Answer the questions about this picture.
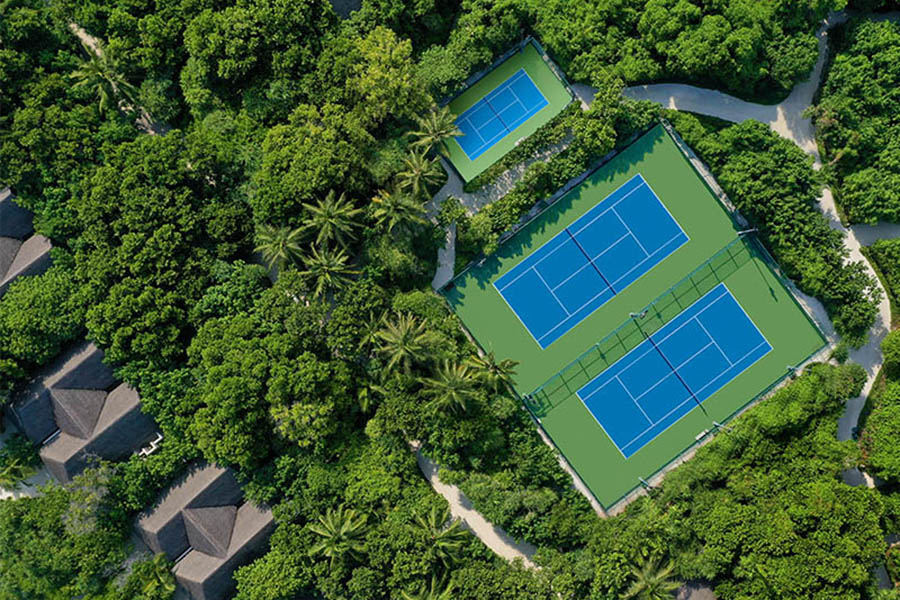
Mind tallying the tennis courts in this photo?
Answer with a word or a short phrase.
three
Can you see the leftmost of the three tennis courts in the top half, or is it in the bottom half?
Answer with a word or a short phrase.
top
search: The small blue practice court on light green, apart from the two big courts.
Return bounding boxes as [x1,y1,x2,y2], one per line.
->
[432,43,572,182]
